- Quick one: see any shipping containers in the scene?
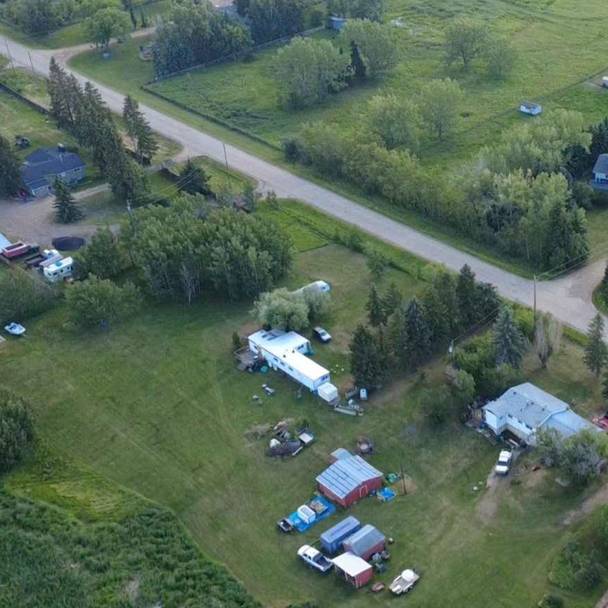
Yes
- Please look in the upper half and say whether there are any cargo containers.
No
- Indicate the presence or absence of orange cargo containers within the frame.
No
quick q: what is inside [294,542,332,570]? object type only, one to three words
truck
